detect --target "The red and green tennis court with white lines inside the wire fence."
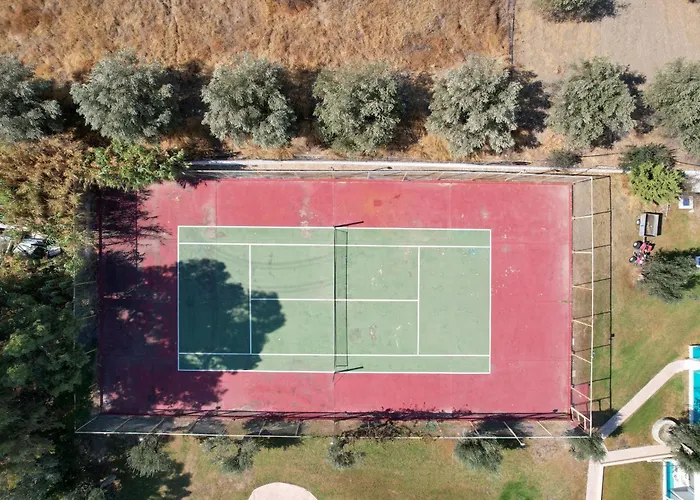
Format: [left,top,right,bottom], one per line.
[96,178,588,434]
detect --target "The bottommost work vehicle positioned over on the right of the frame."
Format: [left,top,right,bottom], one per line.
[629,239,657,267]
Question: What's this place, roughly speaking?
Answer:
sports ground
